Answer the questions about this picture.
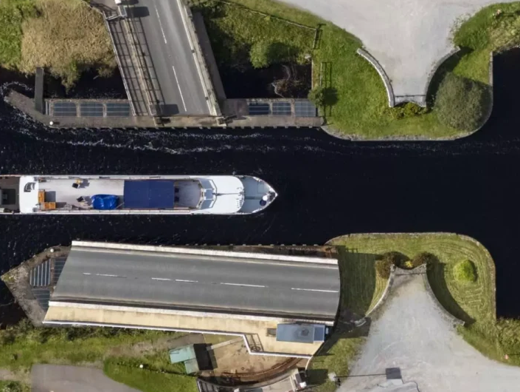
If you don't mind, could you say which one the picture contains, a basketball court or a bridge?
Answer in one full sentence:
Looking from above, you can make out a bridge.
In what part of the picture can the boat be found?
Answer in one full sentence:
The boat is located in the left region of the scene.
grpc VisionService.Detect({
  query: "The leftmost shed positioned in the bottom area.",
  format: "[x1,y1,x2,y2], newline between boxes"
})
[170,342,202,372]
